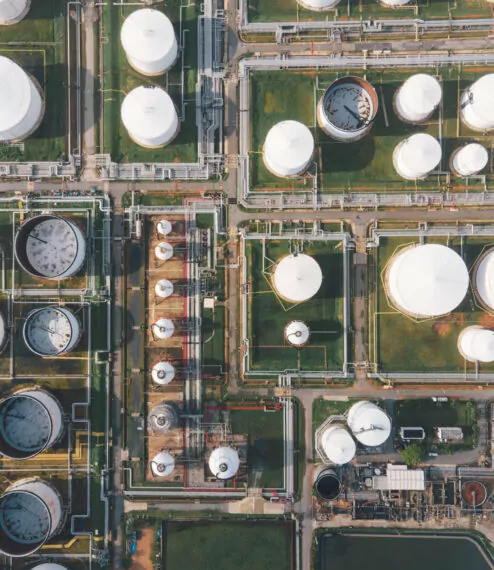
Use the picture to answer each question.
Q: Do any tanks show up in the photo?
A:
Yes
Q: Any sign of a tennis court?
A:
No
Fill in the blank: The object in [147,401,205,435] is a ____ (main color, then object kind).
gray storage tank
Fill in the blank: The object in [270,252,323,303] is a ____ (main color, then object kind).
white storage tank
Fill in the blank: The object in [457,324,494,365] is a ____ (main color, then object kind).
white storage tank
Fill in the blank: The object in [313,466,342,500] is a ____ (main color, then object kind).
black storage tank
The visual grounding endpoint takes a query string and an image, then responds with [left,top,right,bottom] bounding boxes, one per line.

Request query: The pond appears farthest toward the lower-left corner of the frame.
[164,522,292,570]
